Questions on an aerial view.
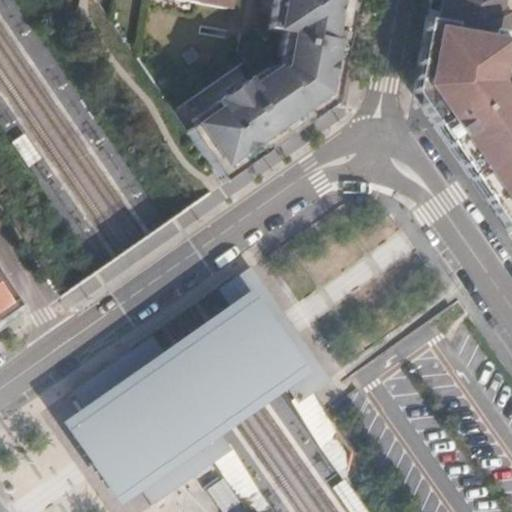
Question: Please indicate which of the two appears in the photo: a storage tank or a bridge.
bridge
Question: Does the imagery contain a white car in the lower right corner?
Yes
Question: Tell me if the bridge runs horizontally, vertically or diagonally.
diagonally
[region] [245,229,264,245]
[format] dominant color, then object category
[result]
white car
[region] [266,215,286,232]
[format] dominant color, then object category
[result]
gray car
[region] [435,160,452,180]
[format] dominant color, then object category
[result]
gray car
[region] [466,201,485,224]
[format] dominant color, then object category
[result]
white car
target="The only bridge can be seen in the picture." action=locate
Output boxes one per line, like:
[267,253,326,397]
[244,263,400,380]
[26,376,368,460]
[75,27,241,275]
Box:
[60,184,238,390]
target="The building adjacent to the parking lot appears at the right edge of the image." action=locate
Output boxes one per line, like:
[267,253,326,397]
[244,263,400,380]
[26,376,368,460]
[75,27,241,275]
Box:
[416,17,512,232]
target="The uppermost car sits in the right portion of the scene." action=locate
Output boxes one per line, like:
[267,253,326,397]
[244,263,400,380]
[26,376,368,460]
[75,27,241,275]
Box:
[419,136,436,156]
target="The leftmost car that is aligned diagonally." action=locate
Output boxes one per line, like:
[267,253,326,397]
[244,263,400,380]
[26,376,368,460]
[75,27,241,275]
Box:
[96,296,116,312]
